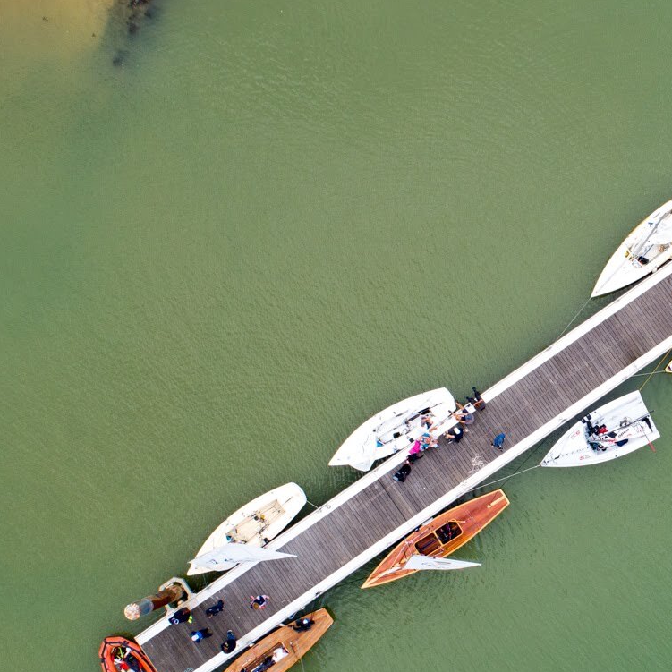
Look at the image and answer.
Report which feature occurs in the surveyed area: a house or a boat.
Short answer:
boat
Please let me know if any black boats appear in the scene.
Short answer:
No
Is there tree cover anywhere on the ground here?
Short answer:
No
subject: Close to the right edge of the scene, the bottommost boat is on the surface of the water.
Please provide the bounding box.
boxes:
[540,390,660,468]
